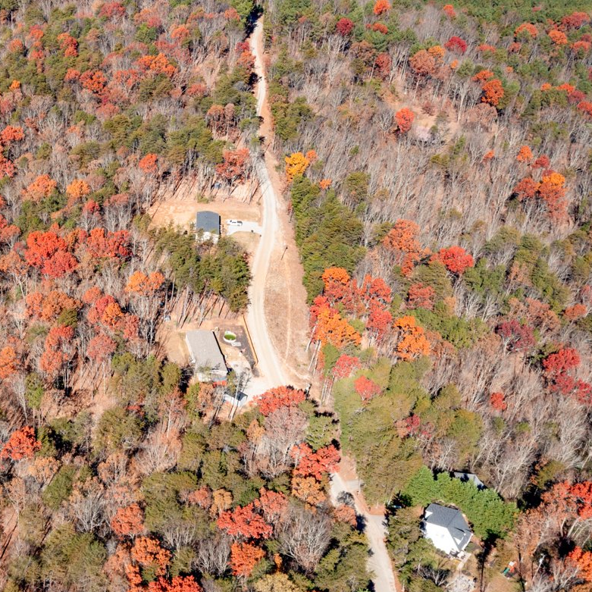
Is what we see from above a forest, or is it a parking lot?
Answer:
forest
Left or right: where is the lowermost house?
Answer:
right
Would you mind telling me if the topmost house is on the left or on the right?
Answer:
left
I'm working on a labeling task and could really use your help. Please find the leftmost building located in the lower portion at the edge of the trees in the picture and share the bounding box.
[187,329,229,382]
